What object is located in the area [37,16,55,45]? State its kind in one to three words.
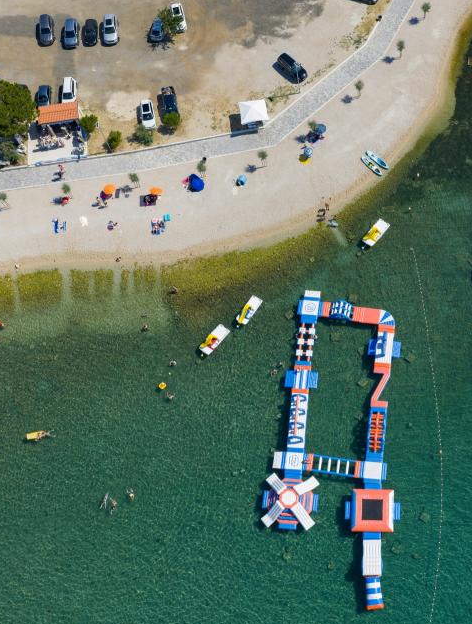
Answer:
car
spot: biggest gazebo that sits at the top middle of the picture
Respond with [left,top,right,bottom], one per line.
[240,100,270,136]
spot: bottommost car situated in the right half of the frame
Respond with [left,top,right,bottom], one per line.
[276,53,307,82]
